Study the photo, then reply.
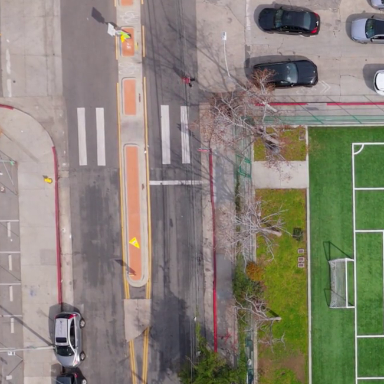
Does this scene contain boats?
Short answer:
No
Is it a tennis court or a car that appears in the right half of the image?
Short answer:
car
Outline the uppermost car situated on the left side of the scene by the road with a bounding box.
[52,312,87,367]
